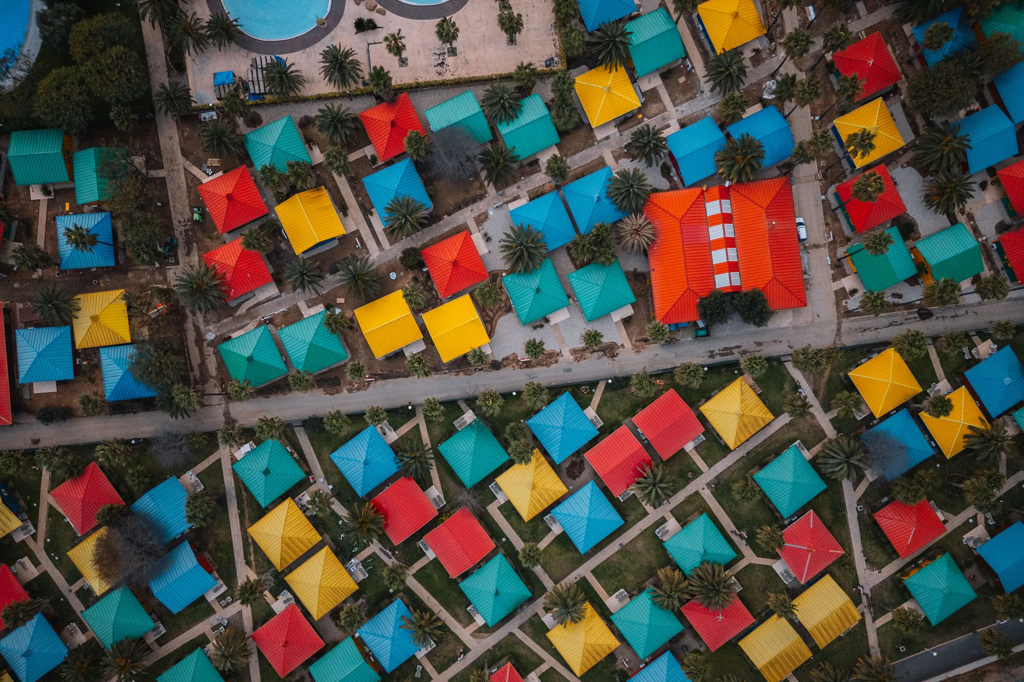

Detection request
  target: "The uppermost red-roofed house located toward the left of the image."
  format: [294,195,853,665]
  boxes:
[359,91,429,163]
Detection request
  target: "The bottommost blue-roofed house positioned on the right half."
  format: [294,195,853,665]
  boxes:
[625,645,691,682]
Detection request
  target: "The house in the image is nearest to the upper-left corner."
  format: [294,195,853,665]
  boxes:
[5,129,75,186]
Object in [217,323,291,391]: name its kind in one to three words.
house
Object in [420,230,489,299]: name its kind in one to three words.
house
